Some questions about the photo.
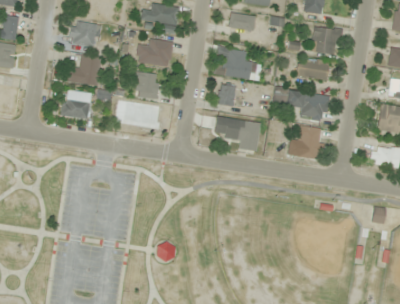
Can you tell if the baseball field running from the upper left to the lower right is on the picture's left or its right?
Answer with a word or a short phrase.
right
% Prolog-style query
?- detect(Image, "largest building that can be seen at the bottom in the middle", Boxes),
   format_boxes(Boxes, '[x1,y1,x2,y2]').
[154,240,176,263]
